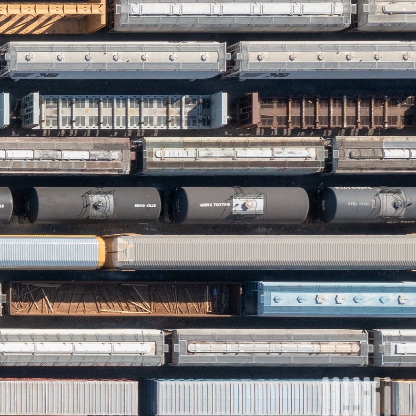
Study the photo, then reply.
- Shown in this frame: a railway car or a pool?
railway car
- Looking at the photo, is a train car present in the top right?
Yes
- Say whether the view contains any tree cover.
No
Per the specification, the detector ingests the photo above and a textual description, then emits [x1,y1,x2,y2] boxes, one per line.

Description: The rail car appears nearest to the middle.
[163,186,313,225]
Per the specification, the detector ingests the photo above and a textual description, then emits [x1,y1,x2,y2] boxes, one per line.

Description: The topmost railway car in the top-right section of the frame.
[227,90,416,129]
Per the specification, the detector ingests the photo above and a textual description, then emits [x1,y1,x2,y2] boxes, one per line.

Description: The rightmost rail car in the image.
[369,376,416,416]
